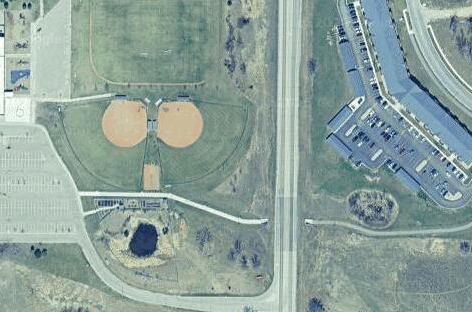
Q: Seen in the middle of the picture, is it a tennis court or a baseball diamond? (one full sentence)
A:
There is a baseball diamond in the middle of the picture.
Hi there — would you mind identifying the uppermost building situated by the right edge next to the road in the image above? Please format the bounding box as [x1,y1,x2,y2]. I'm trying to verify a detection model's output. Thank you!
[359,0,472,170]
